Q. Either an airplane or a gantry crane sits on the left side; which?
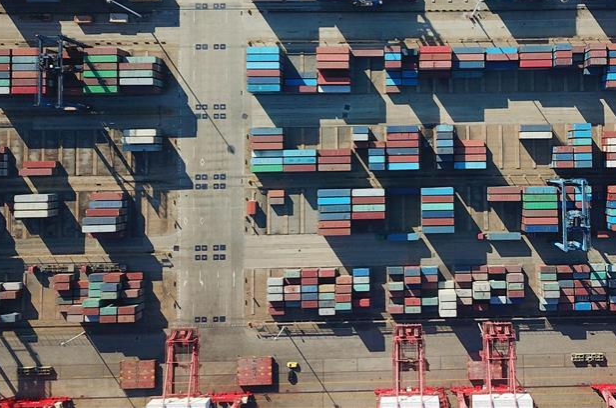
gantry crane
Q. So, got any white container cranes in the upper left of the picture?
No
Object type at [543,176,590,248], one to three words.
container crane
